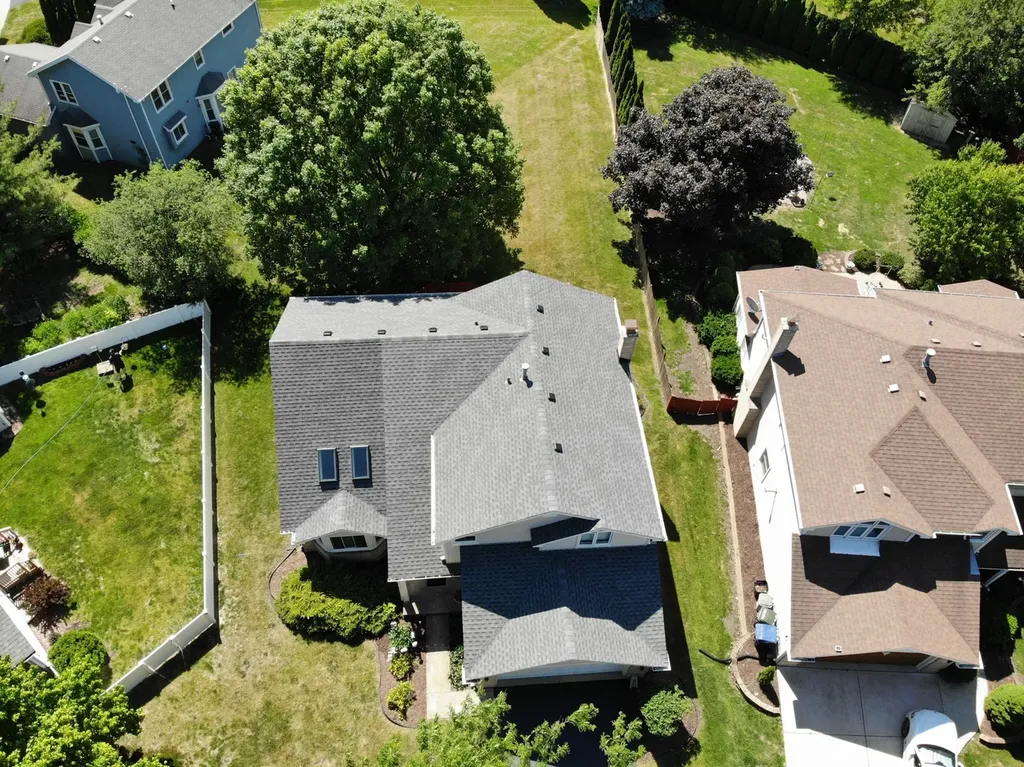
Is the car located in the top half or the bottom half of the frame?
bottom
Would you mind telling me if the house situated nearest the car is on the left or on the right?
right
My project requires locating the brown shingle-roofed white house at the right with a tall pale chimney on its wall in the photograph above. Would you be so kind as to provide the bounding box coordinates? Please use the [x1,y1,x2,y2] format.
[729,265,1024,677]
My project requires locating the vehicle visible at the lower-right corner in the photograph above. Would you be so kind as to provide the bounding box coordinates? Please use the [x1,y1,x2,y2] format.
[901,713,969,767]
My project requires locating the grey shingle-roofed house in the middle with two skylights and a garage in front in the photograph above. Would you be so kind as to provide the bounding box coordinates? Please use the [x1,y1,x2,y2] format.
[271,270,673,691]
